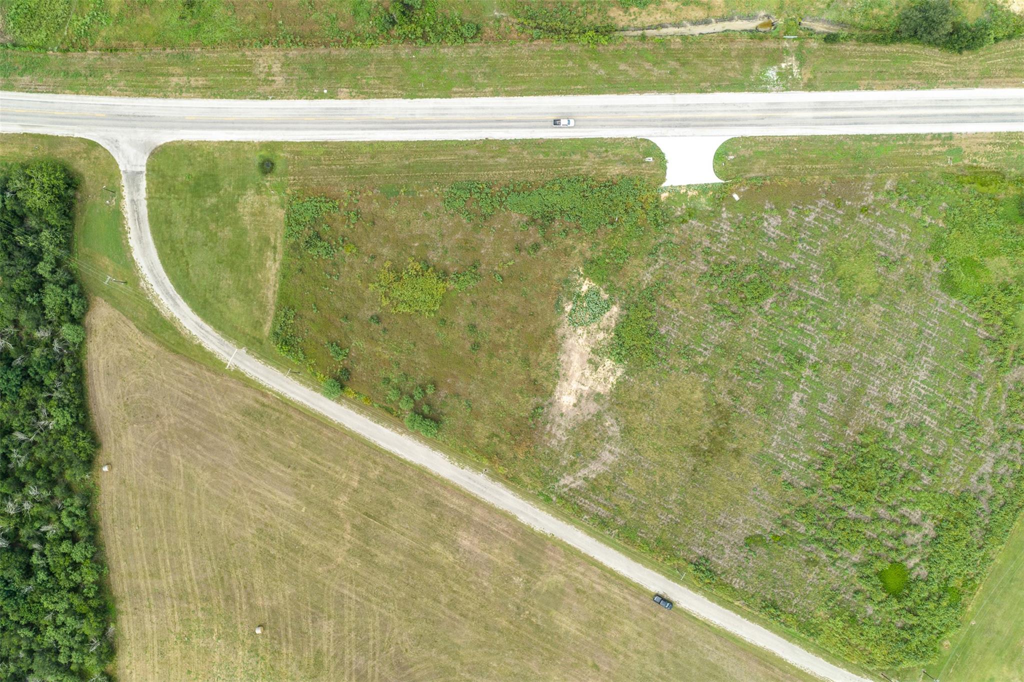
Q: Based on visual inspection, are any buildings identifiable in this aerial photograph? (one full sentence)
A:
No, the photo shows no building.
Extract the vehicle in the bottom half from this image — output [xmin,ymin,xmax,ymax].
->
[651,593,673,609]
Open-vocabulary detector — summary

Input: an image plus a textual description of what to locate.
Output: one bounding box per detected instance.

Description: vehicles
[651,593,673,609]
[552,118,575,127]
